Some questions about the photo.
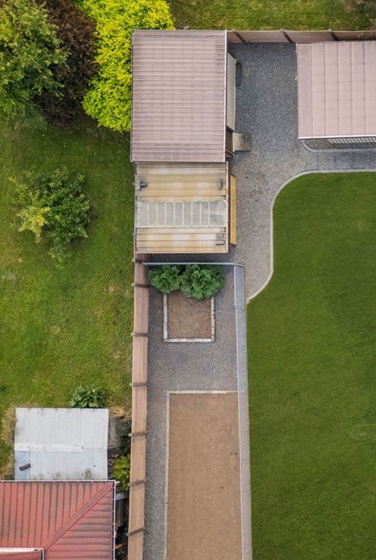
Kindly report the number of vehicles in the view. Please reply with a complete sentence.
There are no vehicles in the image.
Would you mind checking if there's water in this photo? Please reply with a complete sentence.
No, there's no water in this view.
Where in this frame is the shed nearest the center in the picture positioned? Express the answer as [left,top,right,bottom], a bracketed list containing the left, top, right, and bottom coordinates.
[134,161,236,254]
